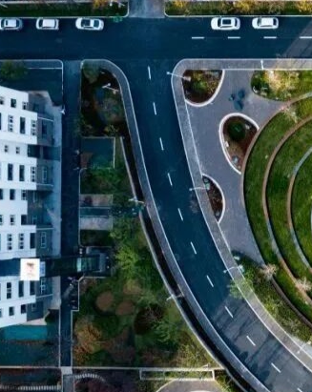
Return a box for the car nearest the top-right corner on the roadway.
[253,16,280,30]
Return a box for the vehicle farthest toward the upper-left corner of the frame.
[0,17,26,31]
